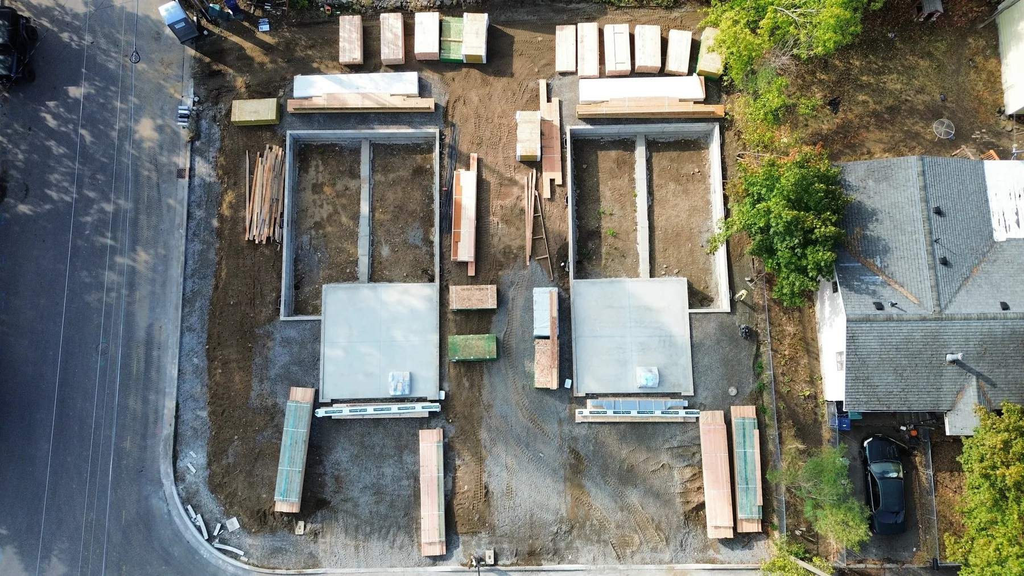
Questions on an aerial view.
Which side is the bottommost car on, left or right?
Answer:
right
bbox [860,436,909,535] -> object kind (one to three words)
car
